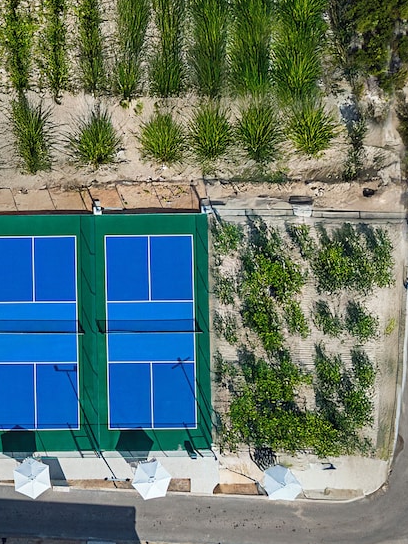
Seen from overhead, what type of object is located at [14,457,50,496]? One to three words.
umbrella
